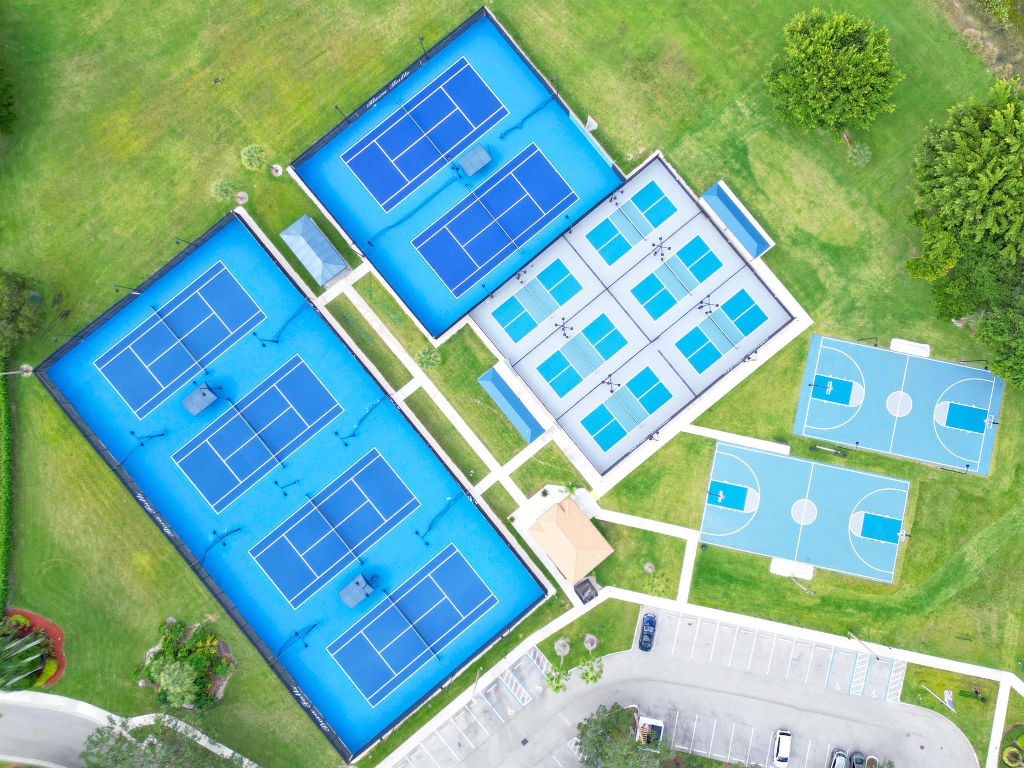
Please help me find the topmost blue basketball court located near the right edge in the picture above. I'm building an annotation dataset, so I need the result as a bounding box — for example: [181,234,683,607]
[793,335,1005,477]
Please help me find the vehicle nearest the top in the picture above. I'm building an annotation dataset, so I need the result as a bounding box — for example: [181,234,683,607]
[640,615,656,650]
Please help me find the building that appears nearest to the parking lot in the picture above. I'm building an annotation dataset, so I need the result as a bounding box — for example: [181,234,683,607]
[528,496,615,586]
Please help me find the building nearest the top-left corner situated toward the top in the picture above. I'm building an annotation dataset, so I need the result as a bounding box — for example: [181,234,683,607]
[279,214,348,287]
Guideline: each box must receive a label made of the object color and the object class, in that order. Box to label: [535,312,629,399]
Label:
blue sports court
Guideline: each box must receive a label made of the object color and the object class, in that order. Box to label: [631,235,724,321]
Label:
blue sports court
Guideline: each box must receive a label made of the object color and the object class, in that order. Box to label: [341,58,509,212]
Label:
blue tennis court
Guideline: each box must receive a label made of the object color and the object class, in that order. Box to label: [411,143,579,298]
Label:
blue tennis court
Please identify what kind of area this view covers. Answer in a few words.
sports ground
